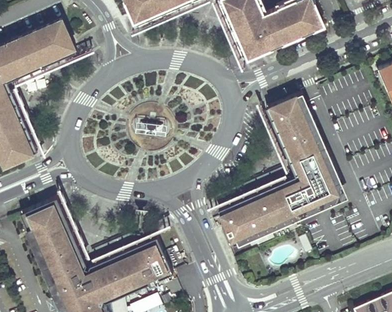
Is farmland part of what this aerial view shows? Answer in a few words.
No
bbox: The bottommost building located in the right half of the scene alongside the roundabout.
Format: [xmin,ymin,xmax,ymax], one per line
[206,96,347,249]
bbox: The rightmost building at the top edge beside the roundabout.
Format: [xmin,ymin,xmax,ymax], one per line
[212,0,326,74]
